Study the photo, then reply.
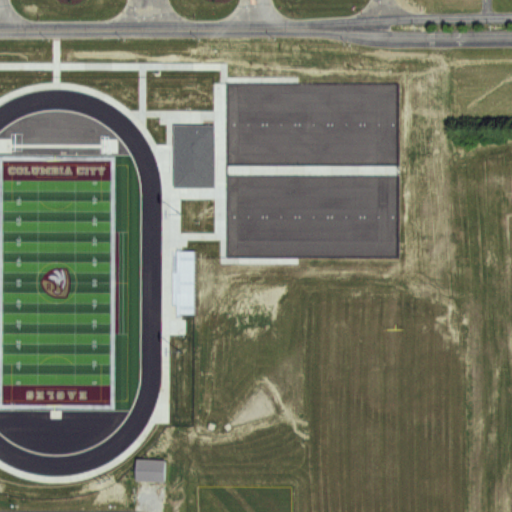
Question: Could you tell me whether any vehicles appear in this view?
No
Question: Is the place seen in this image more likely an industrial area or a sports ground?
sports ground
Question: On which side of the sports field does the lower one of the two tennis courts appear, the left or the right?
to the right of it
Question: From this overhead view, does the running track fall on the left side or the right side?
left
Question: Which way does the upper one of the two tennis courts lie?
from side to side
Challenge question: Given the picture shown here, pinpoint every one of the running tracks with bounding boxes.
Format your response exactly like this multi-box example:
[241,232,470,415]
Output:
[0,91,162,475]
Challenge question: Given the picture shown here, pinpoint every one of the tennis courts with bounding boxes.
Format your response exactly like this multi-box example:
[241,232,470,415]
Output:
[227,84,399,166]
[227,176,399,258]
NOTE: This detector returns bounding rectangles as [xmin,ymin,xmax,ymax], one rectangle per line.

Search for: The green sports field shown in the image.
[0,156,140,411]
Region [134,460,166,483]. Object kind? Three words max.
shed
